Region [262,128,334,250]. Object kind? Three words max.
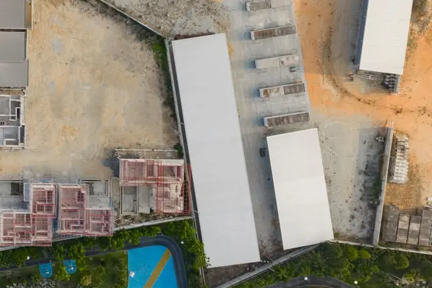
building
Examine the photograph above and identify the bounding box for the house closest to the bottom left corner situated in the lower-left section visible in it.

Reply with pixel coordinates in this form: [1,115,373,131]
[0,180,55,246]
